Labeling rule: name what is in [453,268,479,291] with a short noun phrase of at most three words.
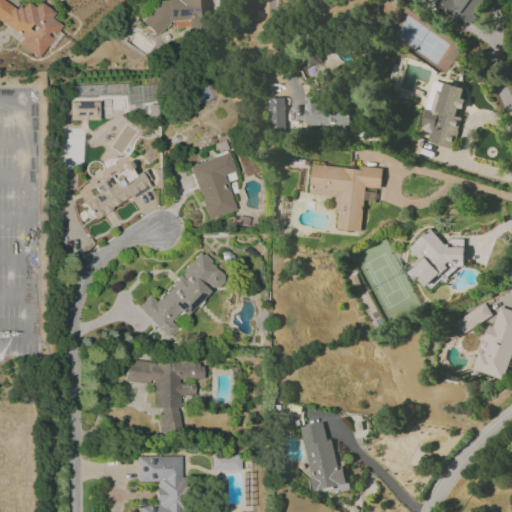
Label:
swimming pool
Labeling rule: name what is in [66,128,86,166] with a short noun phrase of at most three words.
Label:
building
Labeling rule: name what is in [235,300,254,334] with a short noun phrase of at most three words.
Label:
swimming pool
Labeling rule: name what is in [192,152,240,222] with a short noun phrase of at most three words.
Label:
house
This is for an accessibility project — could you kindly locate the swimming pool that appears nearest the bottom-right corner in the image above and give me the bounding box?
[448,347,468,369]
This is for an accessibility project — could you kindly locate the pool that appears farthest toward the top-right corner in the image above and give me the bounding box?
[402,64,432,92]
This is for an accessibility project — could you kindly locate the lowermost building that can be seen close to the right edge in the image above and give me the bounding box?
[460,284,512,380]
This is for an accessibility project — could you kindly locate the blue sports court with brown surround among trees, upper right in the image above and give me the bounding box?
[397,8,458,72]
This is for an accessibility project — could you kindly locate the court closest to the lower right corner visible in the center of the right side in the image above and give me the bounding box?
[364,242,432,330]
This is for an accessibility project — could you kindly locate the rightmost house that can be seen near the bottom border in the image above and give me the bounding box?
[302,422,350,493]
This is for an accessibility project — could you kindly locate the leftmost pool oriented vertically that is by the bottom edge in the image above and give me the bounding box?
[227,473,242,505]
